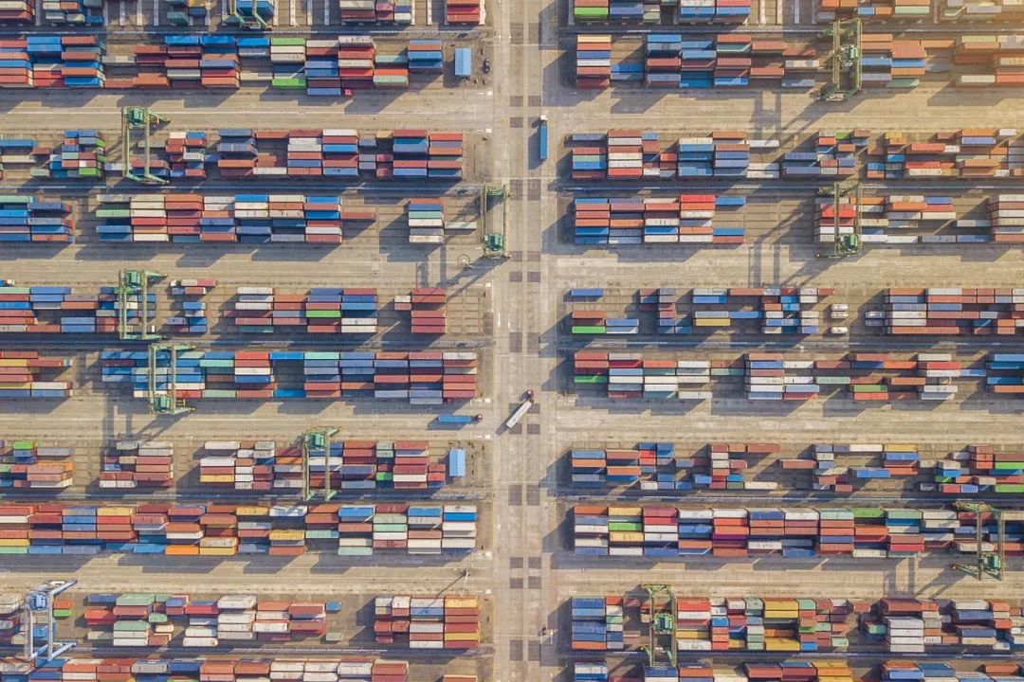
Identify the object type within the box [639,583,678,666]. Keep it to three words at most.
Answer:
container crane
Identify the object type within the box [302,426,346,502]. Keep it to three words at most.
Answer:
container crane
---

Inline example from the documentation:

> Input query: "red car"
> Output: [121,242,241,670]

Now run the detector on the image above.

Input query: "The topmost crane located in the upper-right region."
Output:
[817,20,864,107]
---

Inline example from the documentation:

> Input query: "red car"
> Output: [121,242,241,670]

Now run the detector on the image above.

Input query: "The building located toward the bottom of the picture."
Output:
[449,448,466,476]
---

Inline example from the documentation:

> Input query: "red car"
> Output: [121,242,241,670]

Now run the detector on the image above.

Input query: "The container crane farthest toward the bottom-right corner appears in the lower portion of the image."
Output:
[954,504,1007,584]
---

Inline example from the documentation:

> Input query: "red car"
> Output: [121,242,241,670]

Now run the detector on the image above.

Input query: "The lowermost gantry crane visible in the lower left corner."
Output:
[23,574,78,660]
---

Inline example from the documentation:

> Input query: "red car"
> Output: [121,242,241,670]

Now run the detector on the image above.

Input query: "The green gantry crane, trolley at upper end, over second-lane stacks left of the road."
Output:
[120,106,172,188]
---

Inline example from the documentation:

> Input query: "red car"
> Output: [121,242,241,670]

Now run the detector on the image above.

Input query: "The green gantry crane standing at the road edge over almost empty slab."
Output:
[478,184,516,258]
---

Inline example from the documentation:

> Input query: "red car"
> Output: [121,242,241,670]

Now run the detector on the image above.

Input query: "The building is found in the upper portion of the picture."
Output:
[455,47,471,77]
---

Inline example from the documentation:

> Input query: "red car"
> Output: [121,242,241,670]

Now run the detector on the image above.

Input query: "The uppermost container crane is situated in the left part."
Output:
[228,0,275,33]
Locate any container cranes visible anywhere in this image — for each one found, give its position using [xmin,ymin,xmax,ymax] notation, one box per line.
[23,574,78,660]
[147,345,198,418]
[954,504,1007,584]
[120,106,172,188]
[228,0,275,33]
[639,583,678,666]
[478,184,516,258]
[302,426,346,502]
[816,184,863,258]
[817,20,864,107]
[118,266,169,341]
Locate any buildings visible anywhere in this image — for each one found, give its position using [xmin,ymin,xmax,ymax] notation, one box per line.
[455,47,471,77]
[449,448,466,476]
